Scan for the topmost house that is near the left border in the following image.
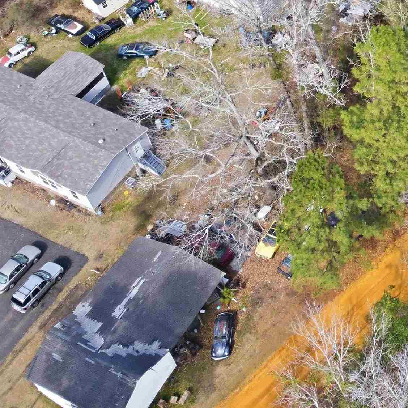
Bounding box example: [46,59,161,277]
[0,50,157,211]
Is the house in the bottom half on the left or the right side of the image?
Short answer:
left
